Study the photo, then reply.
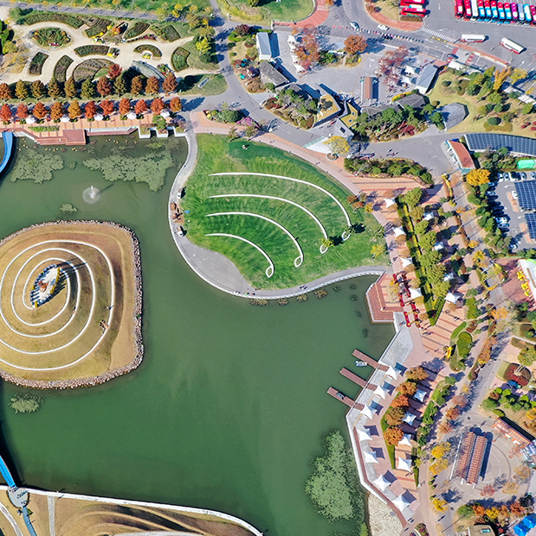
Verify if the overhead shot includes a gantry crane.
No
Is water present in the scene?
Yes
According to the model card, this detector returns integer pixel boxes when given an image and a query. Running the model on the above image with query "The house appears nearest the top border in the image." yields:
[255,30,271,62]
